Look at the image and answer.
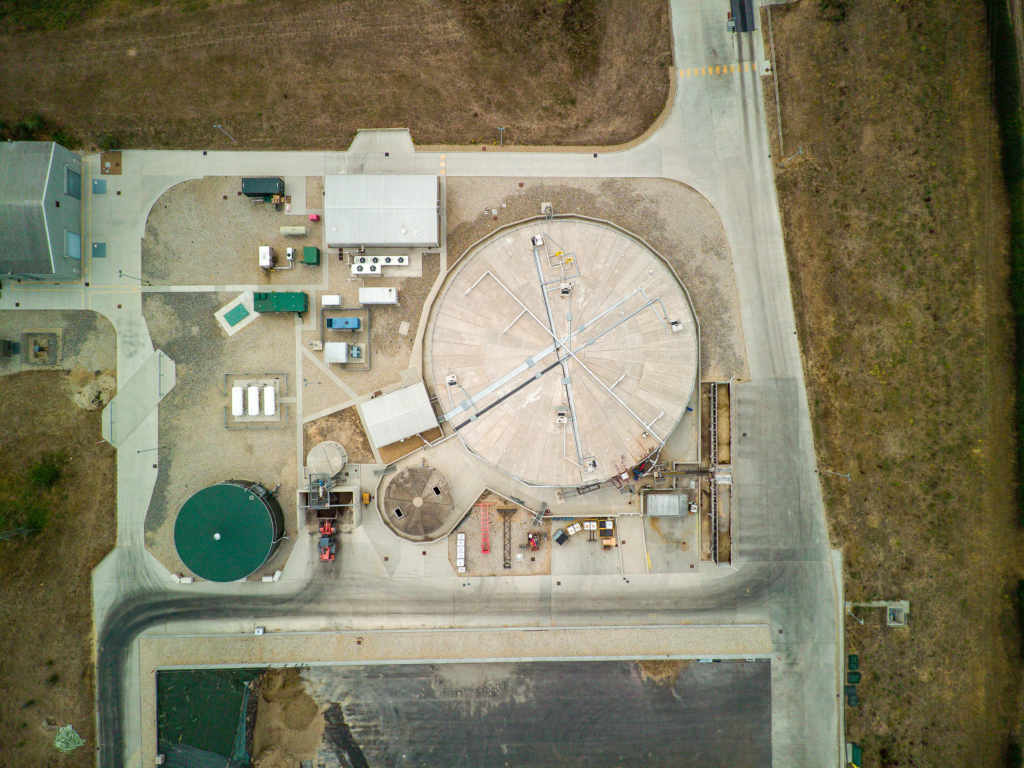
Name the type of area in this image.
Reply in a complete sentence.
The area seen from above is an industrial area.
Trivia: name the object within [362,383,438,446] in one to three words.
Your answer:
shed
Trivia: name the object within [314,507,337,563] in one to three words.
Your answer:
work vehicle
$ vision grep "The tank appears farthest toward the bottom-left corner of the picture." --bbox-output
[172,477,296,584]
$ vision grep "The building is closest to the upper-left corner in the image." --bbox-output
[0,140,83,279]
